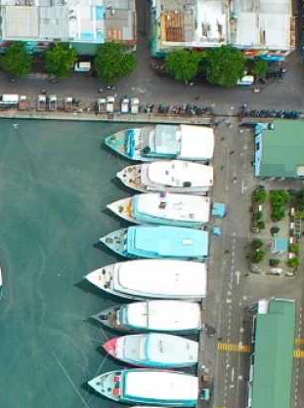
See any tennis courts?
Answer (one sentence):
No, I find no tennis court anywhere in the image.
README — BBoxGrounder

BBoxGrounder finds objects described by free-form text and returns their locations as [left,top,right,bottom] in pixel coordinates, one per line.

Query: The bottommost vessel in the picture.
[89,367,203,405]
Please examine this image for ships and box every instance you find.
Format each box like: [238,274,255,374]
[104,330,203,366]
[118,158,218,194]
[108,190,213,228]
[106,121,219,160]
[89,367,203,405]
[101,225,212,259]
[93,299,206,334]
[87,258,213,300]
